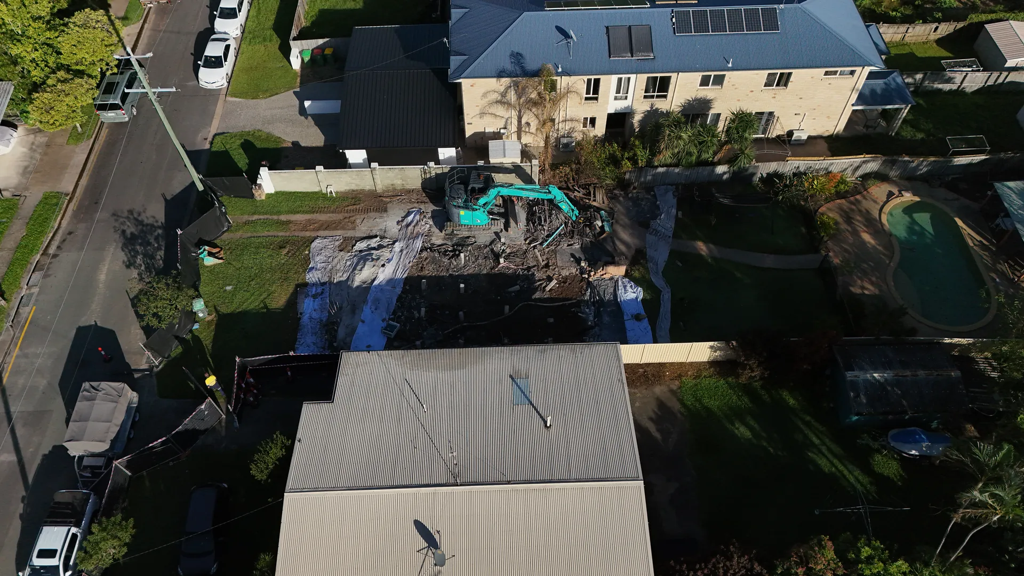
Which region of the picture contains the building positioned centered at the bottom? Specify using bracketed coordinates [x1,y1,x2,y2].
[273,341,657,576]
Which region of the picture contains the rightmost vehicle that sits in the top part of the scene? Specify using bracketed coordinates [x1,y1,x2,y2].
[445,168,617,238]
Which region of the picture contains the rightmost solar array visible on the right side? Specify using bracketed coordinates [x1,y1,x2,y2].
[670,5,781,34]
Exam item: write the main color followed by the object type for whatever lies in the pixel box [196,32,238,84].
white car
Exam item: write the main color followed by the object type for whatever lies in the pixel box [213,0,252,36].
white car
